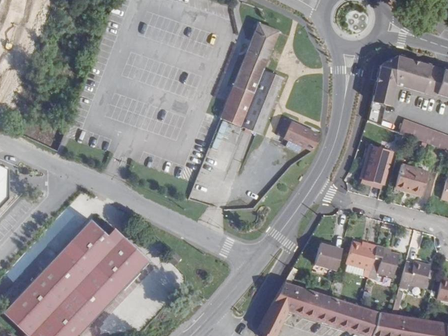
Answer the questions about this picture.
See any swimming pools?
No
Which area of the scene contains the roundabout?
top right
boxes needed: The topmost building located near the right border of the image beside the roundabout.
[374,55,436,108]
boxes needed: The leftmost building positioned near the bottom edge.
[4,220,150,336]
